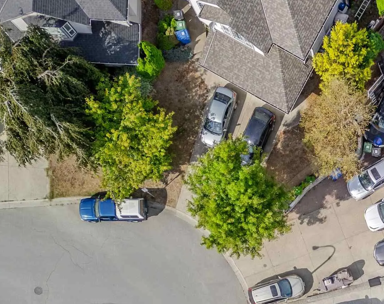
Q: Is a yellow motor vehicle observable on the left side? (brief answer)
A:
No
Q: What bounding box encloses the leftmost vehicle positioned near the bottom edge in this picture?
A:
[245,272,307,304]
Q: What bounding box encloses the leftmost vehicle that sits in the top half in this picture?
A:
[198,86,239,149]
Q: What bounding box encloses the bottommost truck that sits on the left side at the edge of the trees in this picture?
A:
[81,193,148,224]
